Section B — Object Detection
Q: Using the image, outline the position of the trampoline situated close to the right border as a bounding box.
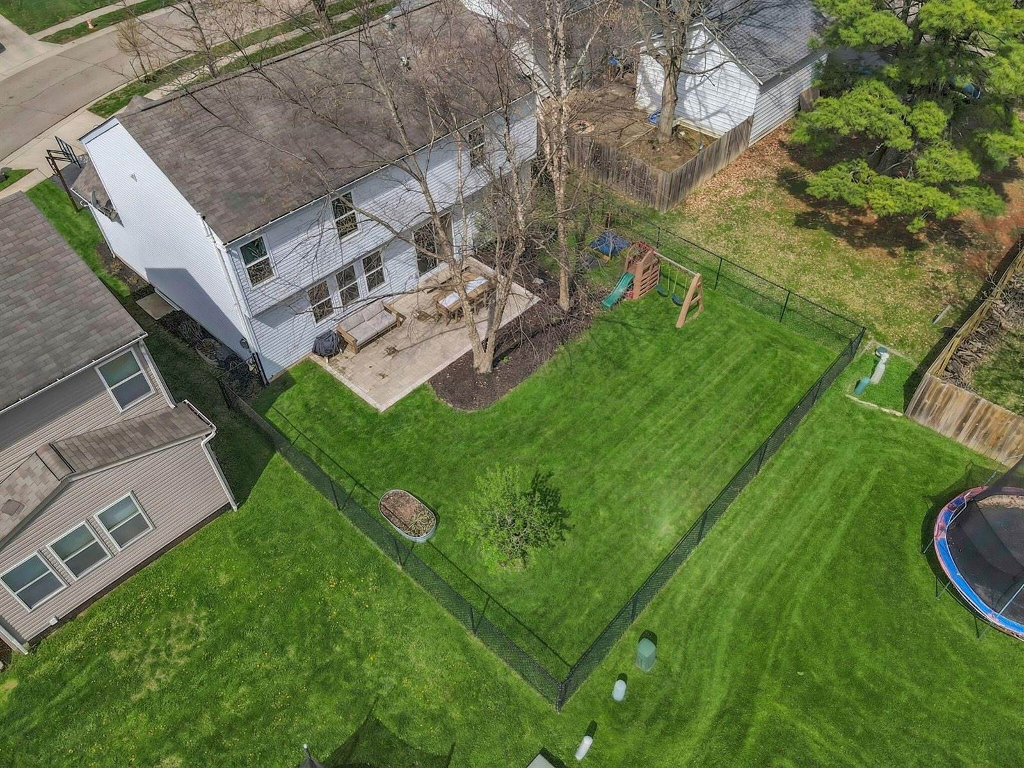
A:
[923,451,1024,646]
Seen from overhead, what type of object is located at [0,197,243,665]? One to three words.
house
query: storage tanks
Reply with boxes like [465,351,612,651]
[377,489,439,551]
